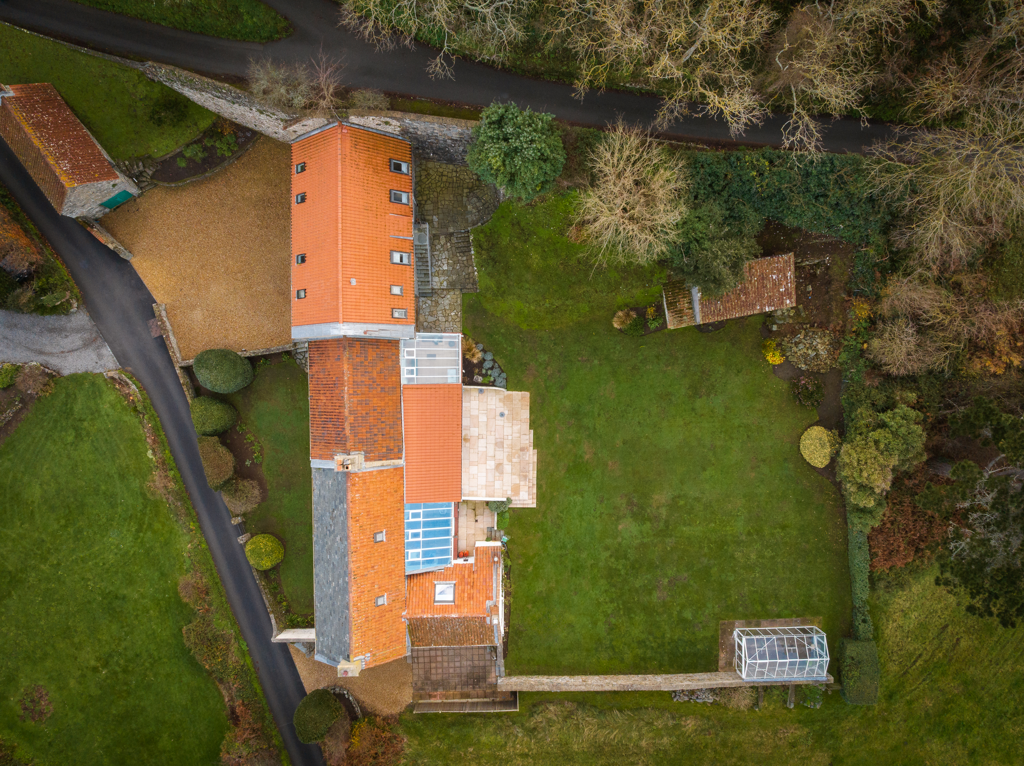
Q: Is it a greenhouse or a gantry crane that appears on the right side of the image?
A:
greenhouse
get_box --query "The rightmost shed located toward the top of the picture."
[661,252,796,328]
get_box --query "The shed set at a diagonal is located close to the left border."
[0,83,141,219]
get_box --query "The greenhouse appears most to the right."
[735,626,831,683]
